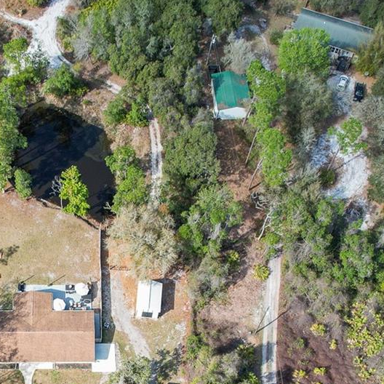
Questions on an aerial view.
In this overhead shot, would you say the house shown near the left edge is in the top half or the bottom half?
bottom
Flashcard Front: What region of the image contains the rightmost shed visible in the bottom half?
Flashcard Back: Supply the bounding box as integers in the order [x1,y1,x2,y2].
[136,279,161,323]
